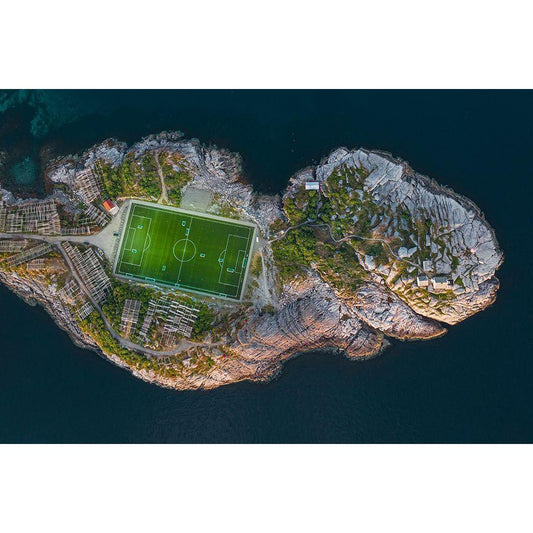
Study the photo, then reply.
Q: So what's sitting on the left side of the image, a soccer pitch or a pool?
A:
soccer pitch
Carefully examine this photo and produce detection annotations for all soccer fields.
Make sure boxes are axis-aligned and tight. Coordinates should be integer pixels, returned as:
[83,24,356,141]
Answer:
[114,199,257,301]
